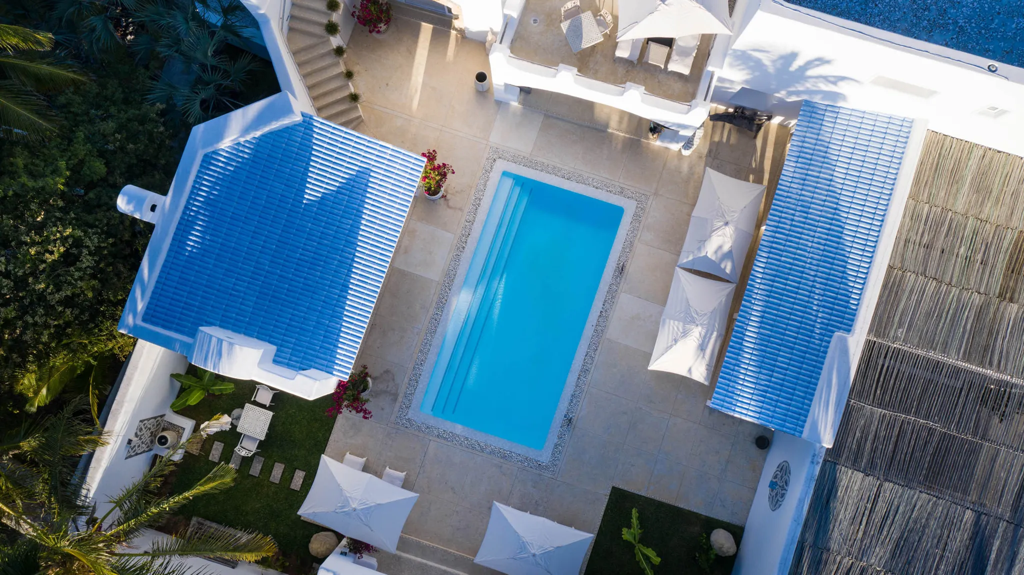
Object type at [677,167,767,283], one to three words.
umbrella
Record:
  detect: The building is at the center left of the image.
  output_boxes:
[119,92,426,401]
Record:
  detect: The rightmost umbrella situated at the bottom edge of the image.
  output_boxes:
[473,501,594,575]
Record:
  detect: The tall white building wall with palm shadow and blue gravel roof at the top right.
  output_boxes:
[712,0,1024,194]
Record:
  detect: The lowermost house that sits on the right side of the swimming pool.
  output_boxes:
[708,101,929,445]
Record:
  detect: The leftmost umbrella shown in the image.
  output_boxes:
[298,454,419,554]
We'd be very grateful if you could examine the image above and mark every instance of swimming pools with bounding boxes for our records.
[409,160,636,462]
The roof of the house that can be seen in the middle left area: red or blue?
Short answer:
blue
